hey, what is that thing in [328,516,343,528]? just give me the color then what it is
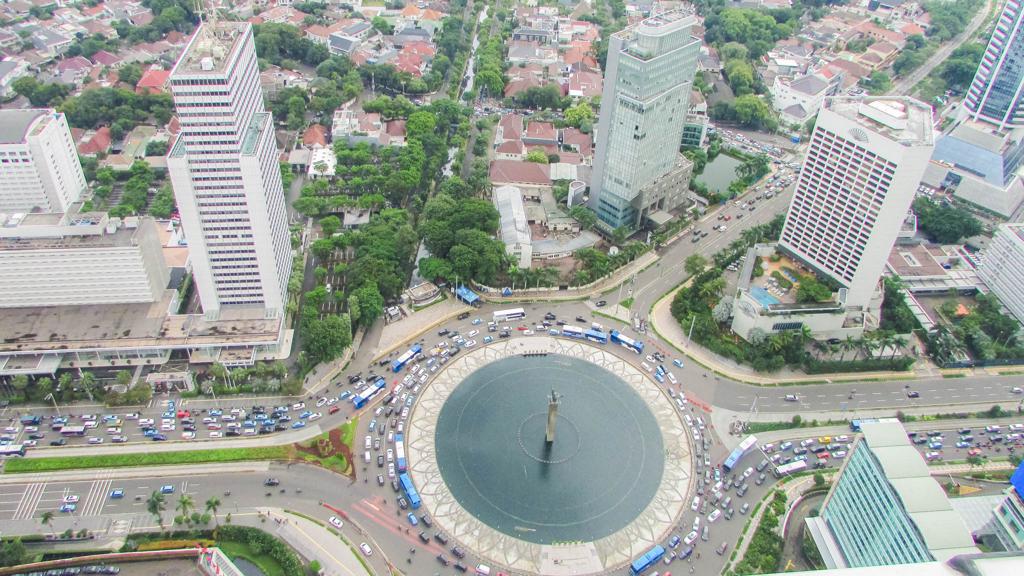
white vehicle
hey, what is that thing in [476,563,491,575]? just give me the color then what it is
white vehicle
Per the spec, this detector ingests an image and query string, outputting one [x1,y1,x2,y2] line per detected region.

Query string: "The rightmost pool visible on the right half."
[751,286,780,308]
